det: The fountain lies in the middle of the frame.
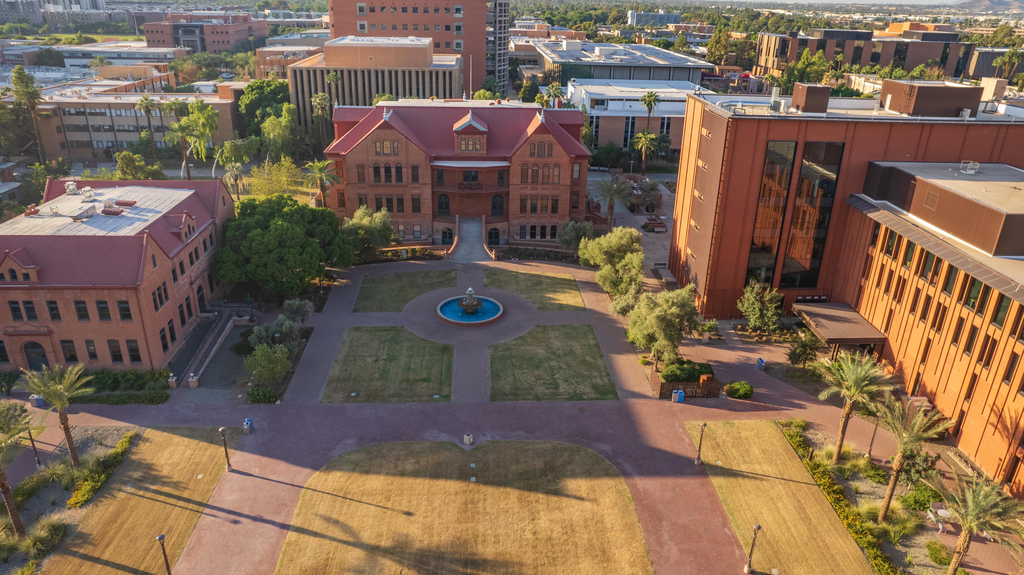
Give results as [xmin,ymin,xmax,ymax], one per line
[438,282,504,327]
